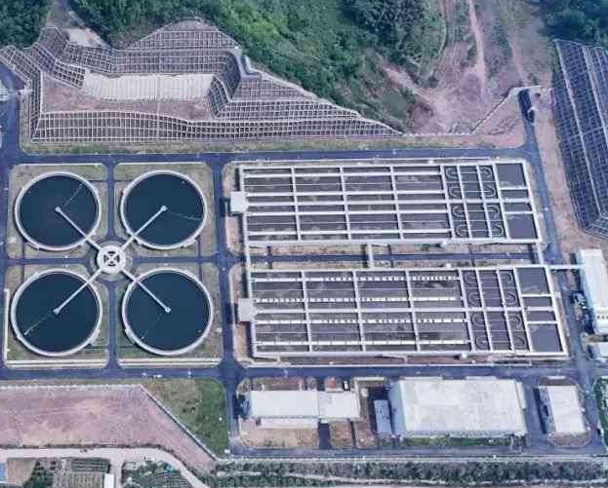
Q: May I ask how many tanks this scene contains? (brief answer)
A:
4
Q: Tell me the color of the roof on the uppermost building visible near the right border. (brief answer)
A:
white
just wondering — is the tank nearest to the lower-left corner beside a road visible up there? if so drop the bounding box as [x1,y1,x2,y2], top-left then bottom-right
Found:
[10,268,103,358]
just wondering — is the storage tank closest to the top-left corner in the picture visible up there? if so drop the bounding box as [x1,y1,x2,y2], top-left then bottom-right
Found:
[14,172,102,253]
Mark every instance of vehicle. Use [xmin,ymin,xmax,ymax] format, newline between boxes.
[152,373,163,378]
[343,382,349,391]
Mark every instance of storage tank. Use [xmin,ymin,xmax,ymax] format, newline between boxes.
[10,268,103,358]
[121,268,213,356]
[120,170,207,251]
[14,172,102,253]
